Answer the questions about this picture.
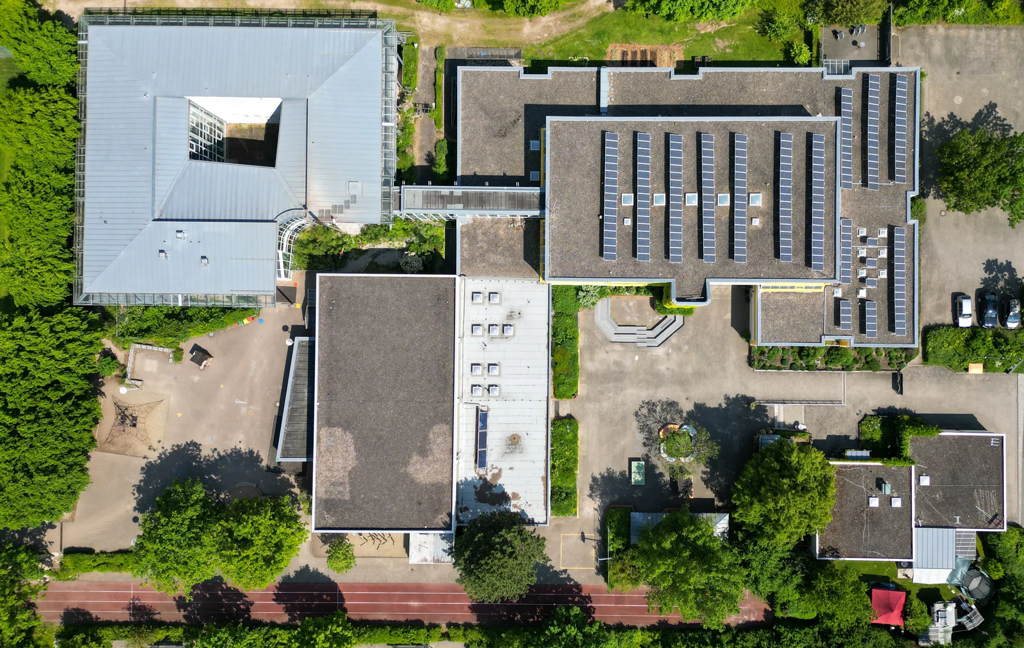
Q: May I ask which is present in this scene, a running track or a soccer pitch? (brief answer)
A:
running track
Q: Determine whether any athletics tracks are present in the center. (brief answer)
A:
No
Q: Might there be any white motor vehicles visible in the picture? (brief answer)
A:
Yes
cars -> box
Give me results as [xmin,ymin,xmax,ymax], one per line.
[954,294,974,327]
[1001,297,1023,329]
[978,292,1000,328]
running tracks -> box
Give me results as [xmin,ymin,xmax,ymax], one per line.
[31,582,774,628]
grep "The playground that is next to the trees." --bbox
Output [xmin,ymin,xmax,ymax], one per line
[39,274,451,584]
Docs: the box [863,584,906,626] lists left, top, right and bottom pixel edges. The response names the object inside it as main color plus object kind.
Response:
red gazebo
